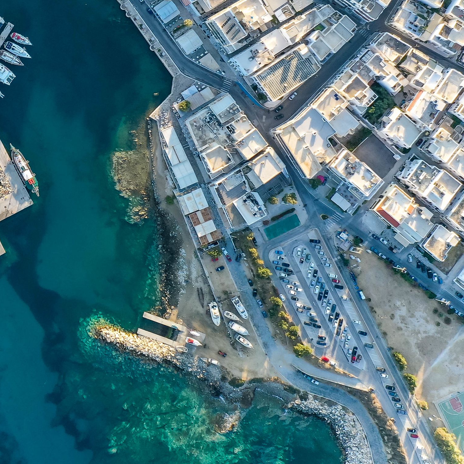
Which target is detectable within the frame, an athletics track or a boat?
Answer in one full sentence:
Of the two, only a boat appears.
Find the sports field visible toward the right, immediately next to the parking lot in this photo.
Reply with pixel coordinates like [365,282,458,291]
[260,211,307,241]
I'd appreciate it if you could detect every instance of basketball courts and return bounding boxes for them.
[433,388,464,456]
